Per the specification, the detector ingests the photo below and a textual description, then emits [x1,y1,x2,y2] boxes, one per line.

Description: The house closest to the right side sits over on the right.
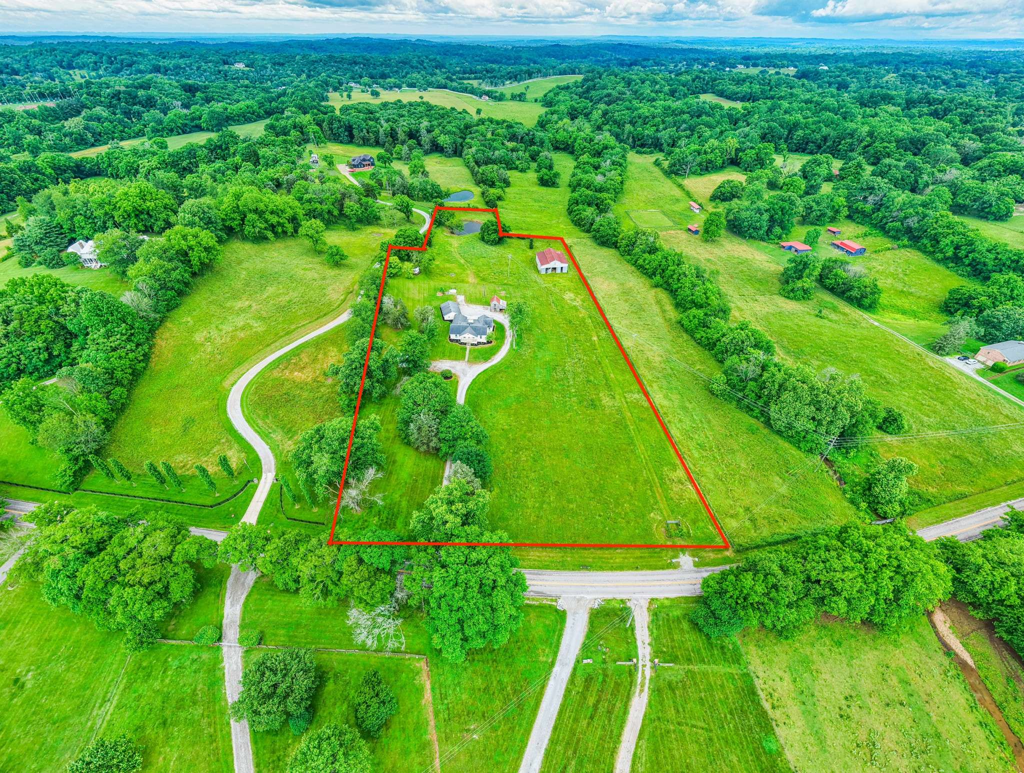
[975,337,1019,363]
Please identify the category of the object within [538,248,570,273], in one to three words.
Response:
barn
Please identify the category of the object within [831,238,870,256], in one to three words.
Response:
barn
